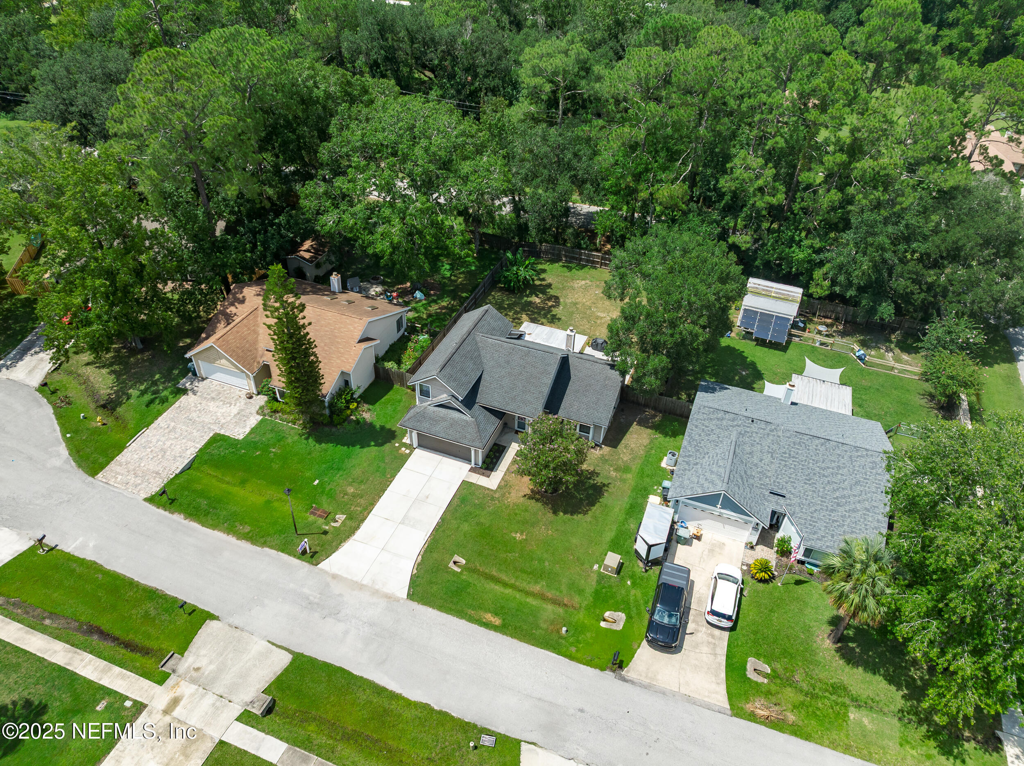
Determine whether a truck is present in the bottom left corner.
No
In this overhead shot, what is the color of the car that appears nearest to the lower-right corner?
white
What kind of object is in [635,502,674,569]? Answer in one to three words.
trailer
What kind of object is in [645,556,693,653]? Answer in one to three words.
truck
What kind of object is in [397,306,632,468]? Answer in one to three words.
house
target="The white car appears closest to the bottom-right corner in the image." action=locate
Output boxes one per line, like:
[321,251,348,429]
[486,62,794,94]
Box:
[704,561,746,630]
